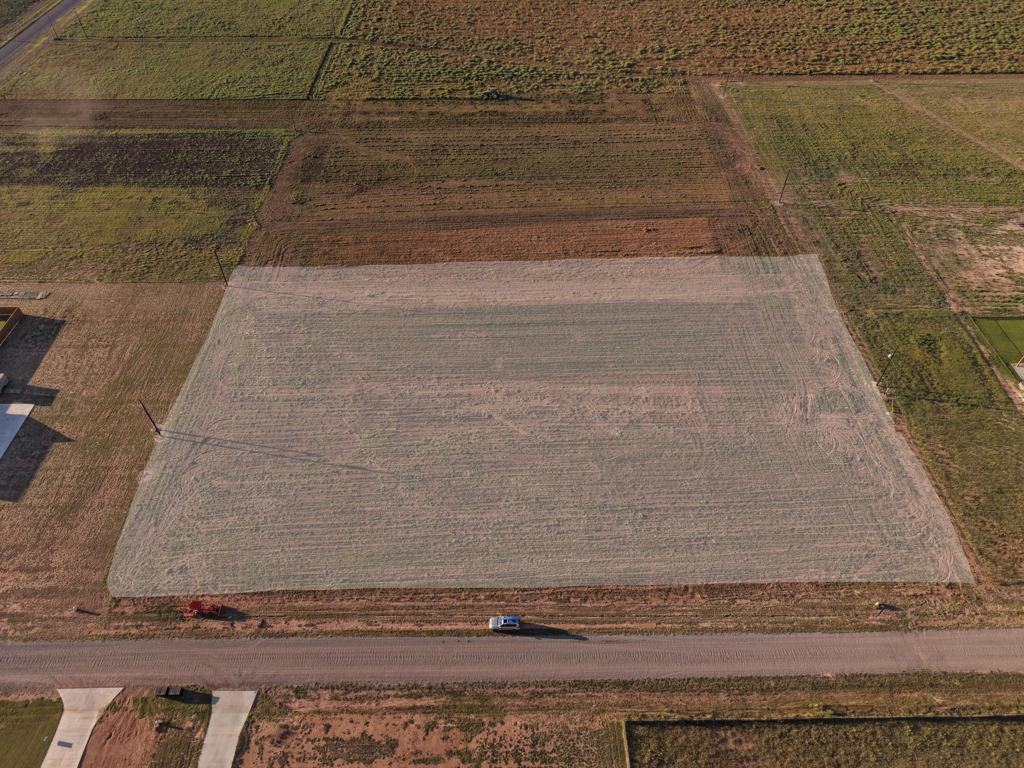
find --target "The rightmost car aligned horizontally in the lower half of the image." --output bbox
[489,617,521,632]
